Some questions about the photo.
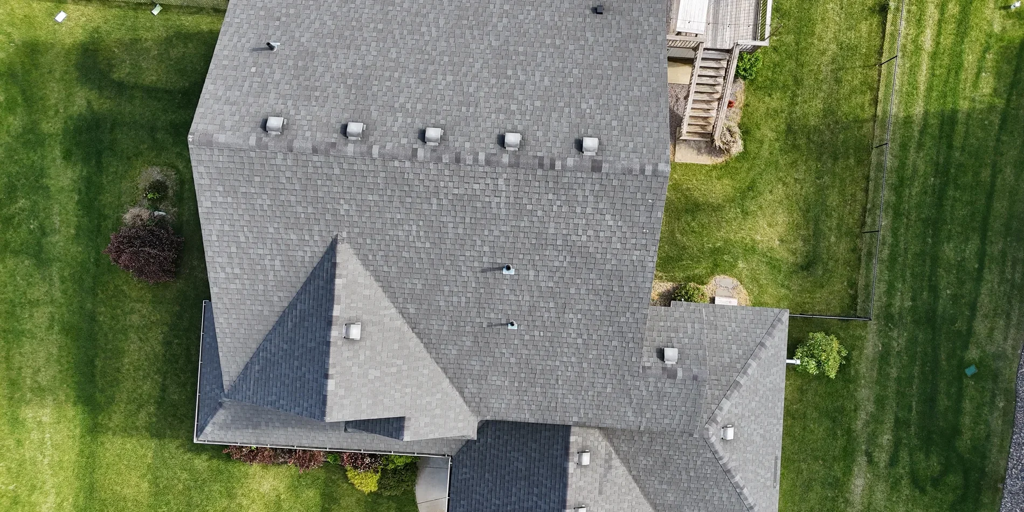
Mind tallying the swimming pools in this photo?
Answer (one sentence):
The photo contains no swimming pools.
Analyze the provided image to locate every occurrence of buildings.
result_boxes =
[188,0,799,512]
